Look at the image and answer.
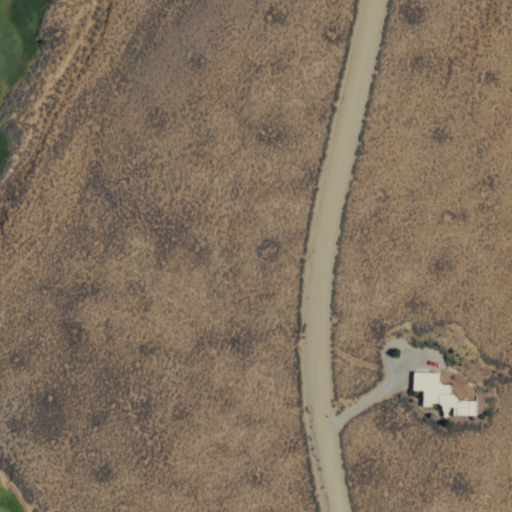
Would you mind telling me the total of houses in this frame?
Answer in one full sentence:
The photo contains exactly 1 house.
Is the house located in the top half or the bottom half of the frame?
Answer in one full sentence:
It is in the bottom half that the house appears.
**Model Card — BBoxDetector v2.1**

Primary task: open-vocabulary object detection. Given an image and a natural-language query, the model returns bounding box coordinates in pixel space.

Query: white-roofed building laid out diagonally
[414,372,478,418]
